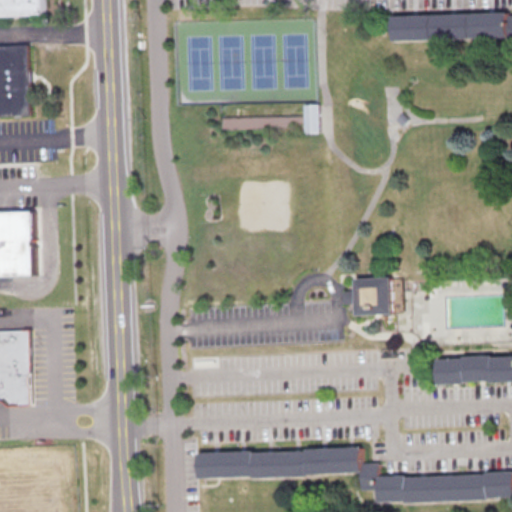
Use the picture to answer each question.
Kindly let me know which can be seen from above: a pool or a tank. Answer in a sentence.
This aerial view contains a pool.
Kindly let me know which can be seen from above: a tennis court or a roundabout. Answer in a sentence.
Of the two, only a tennis court appears.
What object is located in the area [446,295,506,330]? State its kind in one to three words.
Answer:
swimming pool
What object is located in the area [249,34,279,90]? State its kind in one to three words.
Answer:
tennis court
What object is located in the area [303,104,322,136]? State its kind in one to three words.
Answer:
shed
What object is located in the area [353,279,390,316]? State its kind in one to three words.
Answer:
building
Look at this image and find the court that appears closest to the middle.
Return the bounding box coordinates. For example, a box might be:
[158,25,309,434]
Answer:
[240,180,290,232]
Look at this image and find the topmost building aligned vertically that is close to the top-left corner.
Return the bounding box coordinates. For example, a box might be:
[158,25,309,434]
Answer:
[0,44,32,116]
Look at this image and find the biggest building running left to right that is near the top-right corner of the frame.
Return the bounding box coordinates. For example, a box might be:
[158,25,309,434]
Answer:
[388,13,509,40]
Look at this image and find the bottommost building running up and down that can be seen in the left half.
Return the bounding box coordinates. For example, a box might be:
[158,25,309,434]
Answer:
[0,330,34,406]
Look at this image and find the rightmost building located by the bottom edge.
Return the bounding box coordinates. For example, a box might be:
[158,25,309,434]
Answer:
[374,472,512,503]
